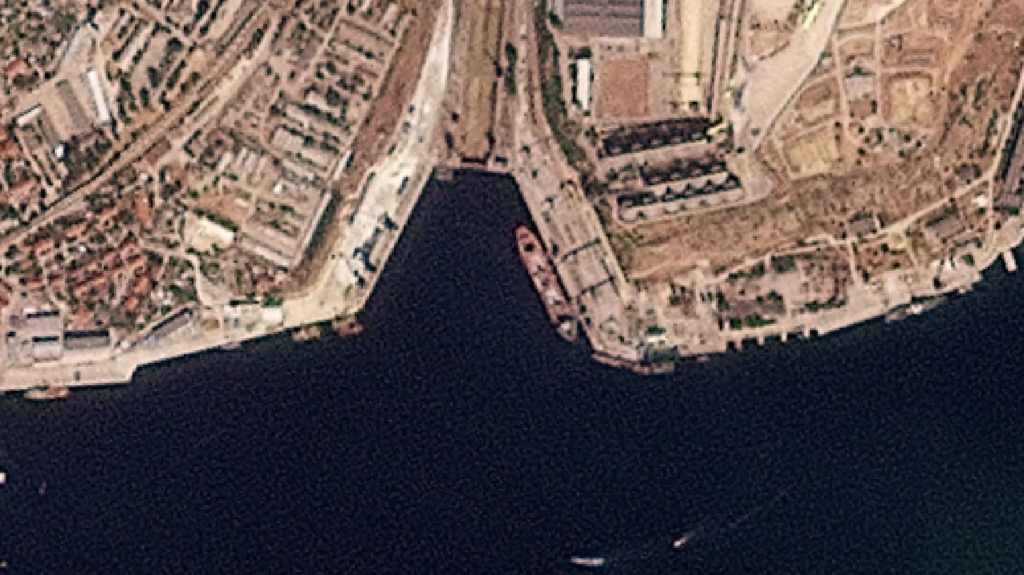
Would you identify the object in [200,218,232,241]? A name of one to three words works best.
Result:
building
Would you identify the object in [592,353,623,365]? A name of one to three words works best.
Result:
ship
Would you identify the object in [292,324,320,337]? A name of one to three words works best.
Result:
boat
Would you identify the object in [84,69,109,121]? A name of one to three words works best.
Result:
shed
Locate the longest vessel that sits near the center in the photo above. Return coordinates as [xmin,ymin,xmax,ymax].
[518,226,572,326]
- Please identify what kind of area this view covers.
port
